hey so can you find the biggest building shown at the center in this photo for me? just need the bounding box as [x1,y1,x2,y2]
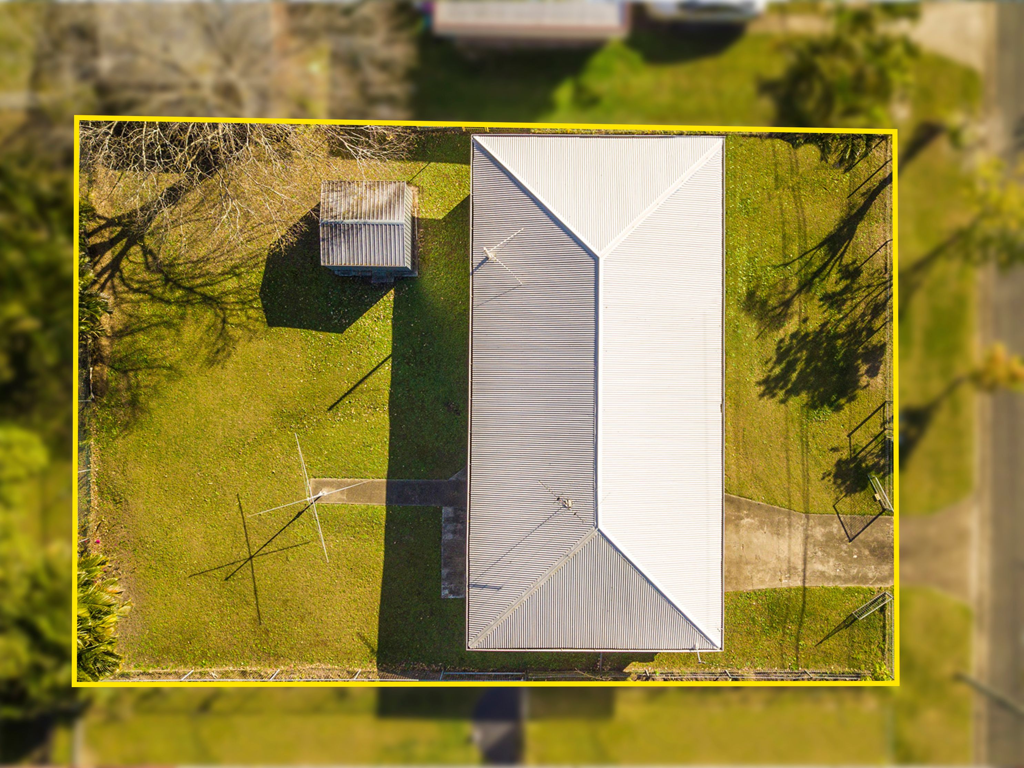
[467,134,727,664]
